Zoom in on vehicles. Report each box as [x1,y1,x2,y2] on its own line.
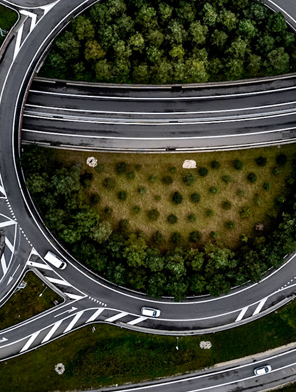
[43,252,64,270]
[141,308,161,319]
[254,366,273,378]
